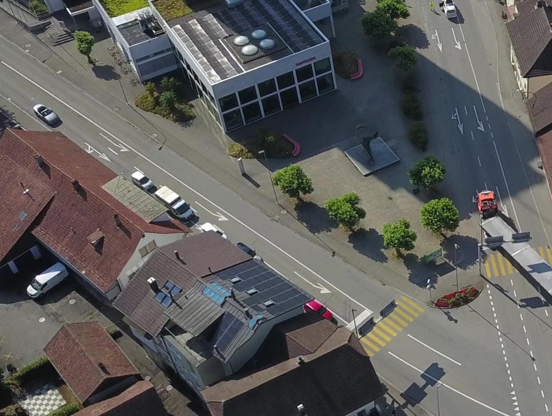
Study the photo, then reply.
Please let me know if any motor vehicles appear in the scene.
Yes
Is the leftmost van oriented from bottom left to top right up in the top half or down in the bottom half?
bottom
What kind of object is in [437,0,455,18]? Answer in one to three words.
car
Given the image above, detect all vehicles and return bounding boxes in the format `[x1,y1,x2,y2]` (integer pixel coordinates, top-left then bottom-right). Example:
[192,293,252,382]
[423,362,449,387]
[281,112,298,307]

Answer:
[196,219,229,239]
[151,181,194,220]
[32,105,60,125]
[232,238,258,256]
[25,260,69,295]
[129,170,156,191]
[437,0,455,18]
[312,299,335,319]
[473,183,498,230]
